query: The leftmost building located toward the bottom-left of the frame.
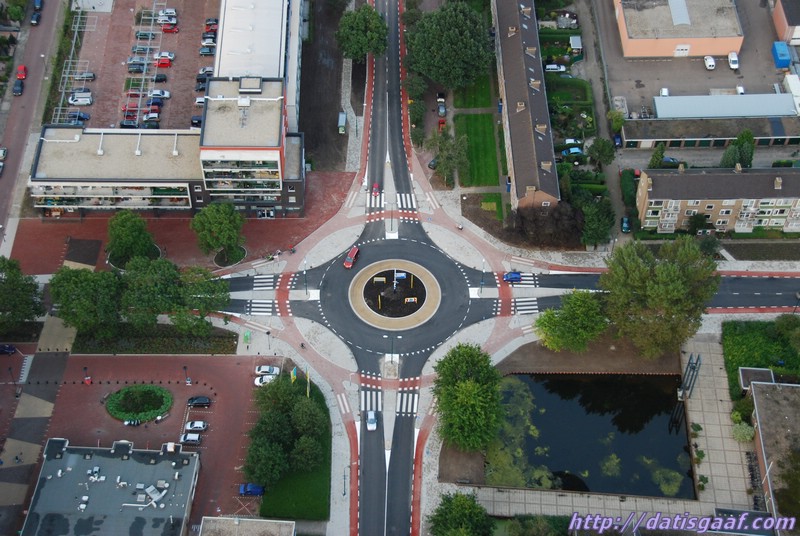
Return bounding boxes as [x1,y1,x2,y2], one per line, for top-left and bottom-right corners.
[24,438,205,536]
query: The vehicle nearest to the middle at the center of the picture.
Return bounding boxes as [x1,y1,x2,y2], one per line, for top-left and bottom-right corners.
[344,248,359,266]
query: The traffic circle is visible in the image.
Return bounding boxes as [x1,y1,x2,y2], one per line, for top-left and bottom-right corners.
[317,238,472,356]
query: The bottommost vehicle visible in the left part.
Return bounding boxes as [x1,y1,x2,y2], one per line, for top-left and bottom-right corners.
[238,484,265,496]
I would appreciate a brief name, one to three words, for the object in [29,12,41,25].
vehicle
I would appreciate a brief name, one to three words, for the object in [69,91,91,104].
vehicle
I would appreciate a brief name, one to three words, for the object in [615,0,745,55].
building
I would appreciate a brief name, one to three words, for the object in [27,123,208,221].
building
